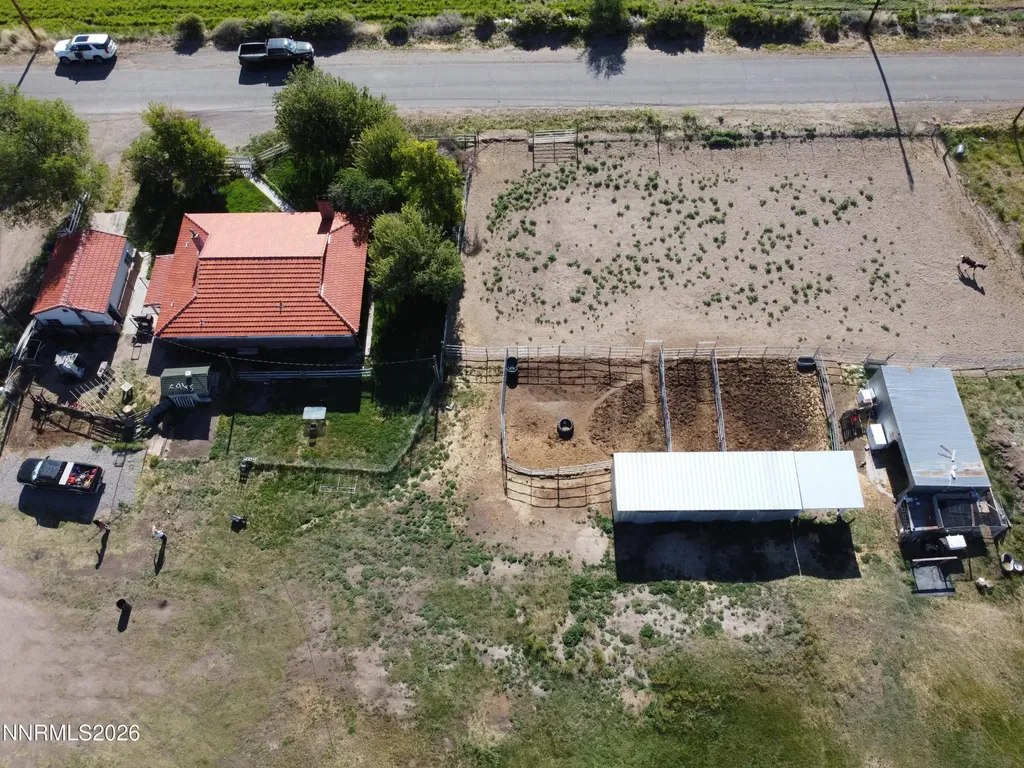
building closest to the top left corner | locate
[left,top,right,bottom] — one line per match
[27,227,135,338]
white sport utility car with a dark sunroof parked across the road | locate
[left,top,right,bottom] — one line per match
[49,31,115,63]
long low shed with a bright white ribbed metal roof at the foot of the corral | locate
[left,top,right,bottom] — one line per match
[608,450,863,523]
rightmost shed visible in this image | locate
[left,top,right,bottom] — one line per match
[871,367,987,501]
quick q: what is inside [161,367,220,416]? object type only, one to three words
shed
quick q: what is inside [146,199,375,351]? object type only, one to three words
house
